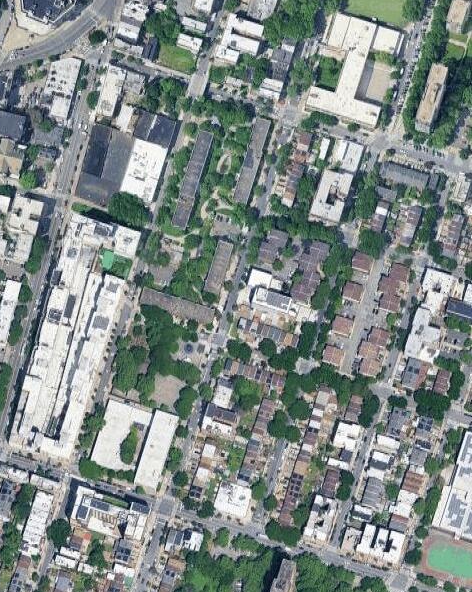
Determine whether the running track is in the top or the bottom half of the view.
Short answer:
bottom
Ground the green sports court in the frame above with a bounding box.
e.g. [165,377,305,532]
[102,250,133,277]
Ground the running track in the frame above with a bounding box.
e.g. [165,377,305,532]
[418,529,472,589]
